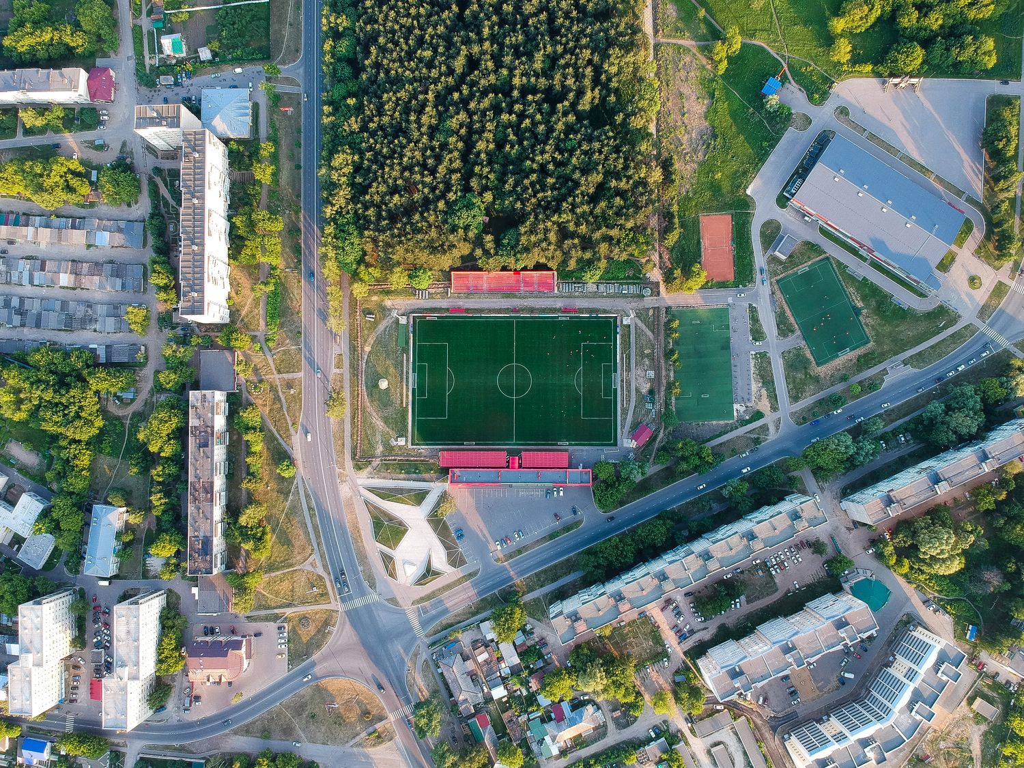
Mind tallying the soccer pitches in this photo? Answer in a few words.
3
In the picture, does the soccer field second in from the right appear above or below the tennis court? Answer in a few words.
below it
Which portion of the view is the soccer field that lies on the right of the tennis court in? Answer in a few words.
right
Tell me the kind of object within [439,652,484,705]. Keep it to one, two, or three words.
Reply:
house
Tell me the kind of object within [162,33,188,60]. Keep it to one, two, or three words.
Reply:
house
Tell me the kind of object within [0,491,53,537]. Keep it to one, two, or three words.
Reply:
building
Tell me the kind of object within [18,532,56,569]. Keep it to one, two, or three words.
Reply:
building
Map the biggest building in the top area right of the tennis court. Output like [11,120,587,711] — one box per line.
[783,133,967,290]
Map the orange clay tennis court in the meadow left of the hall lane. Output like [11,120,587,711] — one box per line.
[700,214,735,281]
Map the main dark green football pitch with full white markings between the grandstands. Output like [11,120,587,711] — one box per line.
[412,316,617,446]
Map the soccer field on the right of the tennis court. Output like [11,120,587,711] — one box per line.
[776,257,870,367]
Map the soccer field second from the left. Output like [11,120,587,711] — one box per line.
[672,307,734,422]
